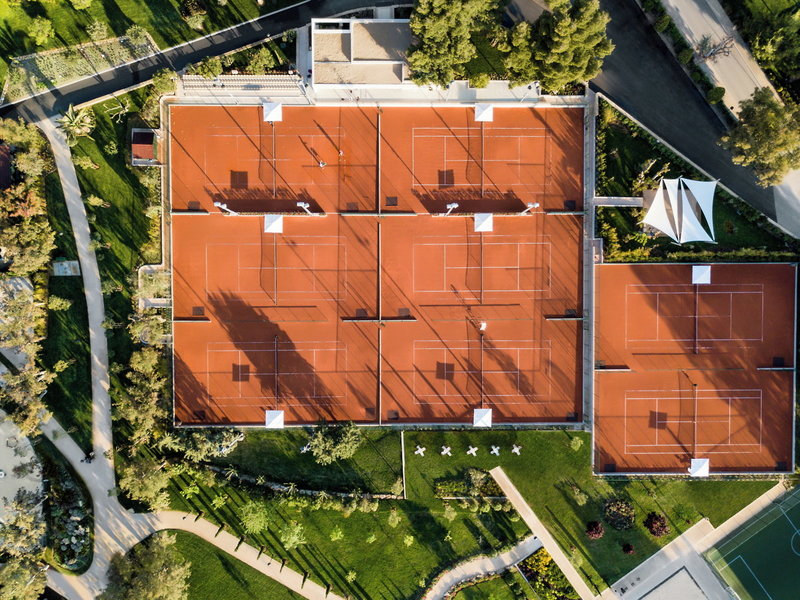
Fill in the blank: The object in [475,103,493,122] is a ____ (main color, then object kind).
white umbrella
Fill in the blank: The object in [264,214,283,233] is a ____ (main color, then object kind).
white umbrella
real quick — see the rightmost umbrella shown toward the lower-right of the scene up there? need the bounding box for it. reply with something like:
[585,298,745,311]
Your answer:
[688,458,708,476]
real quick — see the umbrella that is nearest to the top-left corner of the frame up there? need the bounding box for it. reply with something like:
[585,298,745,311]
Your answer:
[262,102,282,122]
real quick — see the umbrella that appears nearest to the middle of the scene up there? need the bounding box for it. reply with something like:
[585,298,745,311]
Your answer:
[474,213,493,232]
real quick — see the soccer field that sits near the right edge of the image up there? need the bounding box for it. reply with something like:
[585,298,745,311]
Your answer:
[704,480,800,600]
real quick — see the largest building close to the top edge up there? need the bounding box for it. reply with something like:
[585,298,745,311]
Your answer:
[312,16,411,93]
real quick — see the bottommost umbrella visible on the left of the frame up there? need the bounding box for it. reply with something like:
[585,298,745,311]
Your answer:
[266,409,284,428]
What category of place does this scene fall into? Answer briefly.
sports ground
